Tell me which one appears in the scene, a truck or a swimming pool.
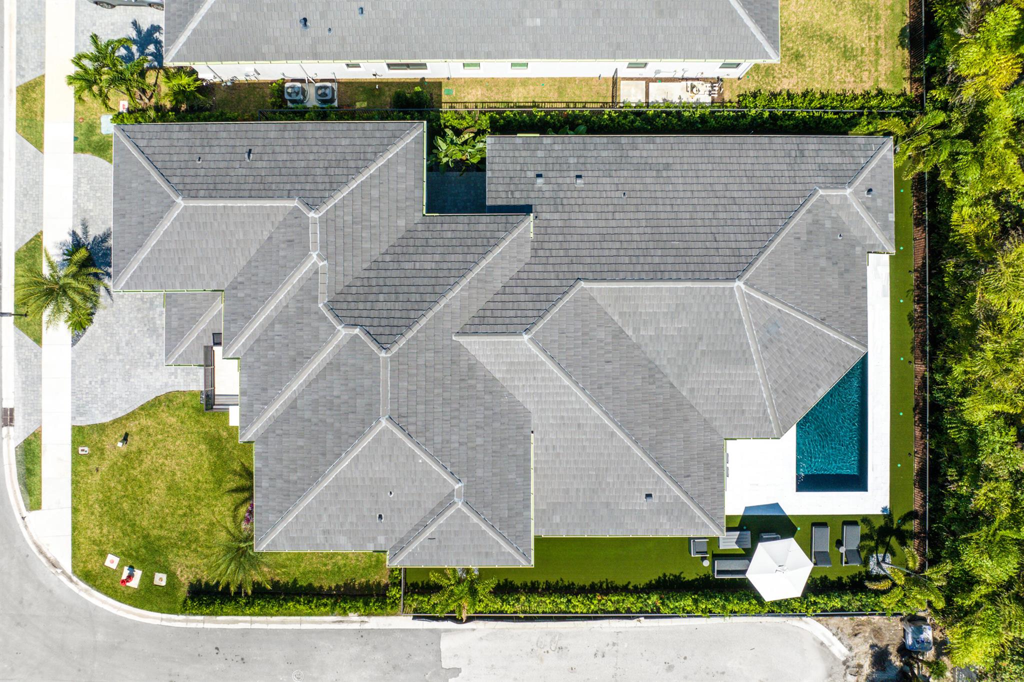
swimming pool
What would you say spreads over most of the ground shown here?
buildings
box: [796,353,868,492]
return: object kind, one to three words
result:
swimming pool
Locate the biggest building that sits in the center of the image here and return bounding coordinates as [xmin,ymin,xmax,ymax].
[110,121,897,570]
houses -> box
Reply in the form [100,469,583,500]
[110,121,897,570]
[162,0,781,84]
